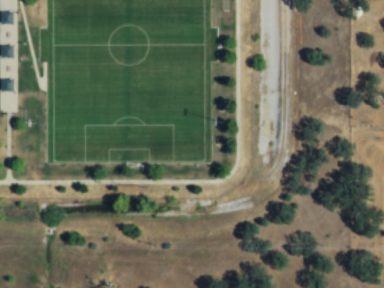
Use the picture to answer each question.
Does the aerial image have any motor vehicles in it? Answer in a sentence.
No, the frame has no motor vehicle in it.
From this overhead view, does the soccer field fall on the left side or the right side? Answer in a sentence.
It is on the left.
